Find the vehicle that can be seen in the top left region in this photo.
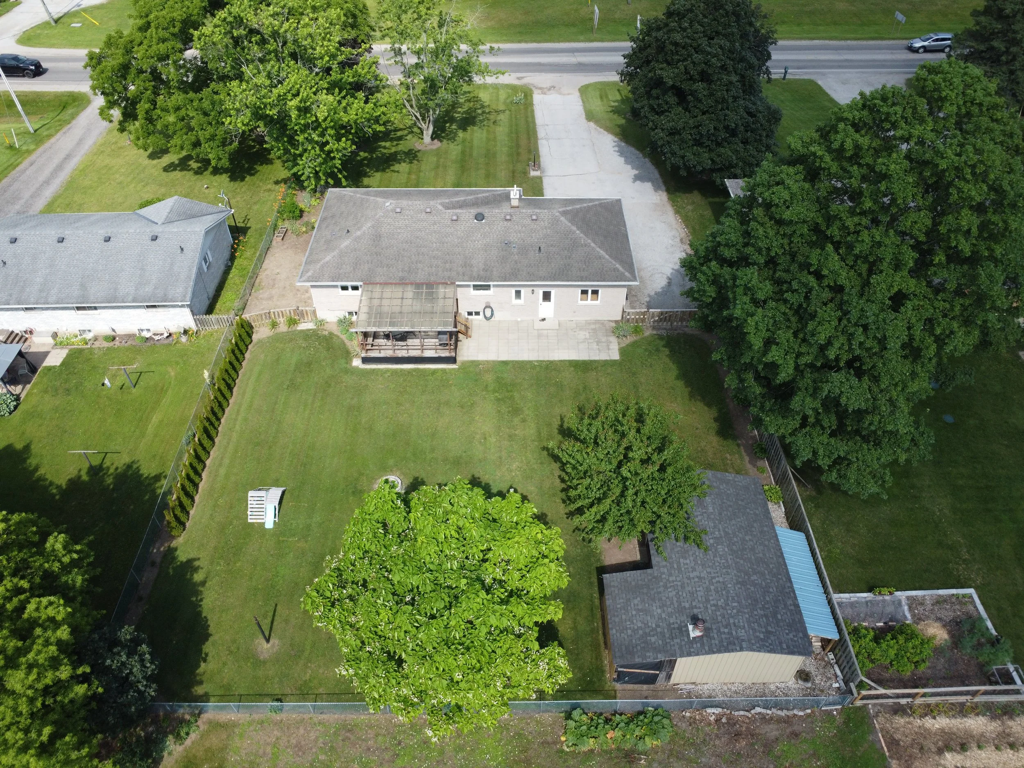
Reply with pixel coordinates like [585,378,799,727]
[0,51,39,78]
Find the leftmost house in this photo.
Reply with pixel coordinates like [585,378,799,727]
[0,193,239,330]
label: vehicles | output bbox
[906,27,961,51]
[0,51,39,78]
